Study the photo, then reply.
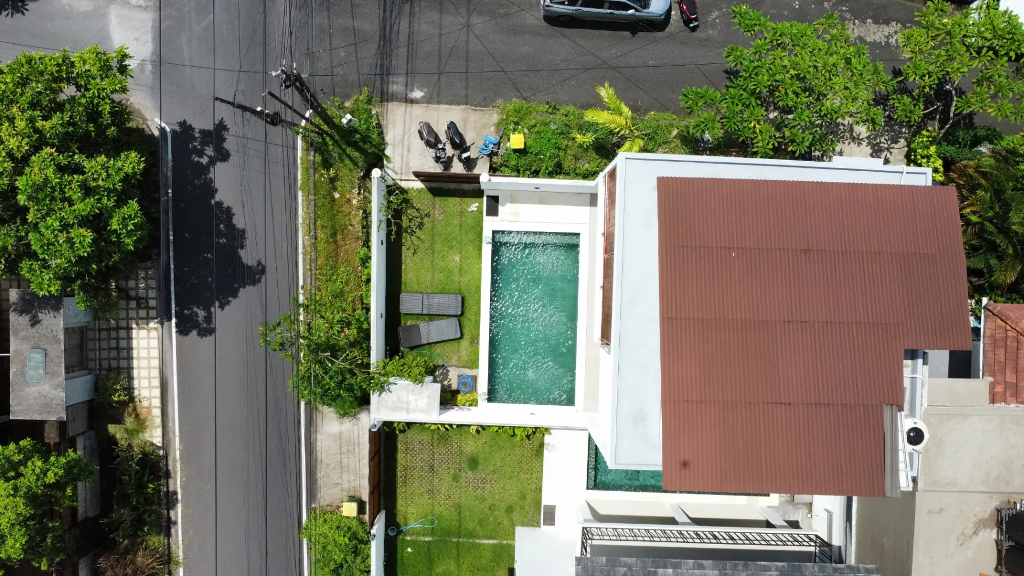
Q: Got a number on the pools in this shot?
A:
2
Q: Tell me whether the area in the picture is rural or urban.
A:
urban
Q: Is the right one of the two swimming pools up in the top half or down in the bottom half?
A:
bottom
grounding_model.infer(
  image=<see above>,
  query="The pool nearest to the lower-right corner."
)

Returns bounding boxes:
[587,437,662,491]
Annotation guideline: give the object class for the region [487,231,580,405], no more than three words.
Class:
swimming pool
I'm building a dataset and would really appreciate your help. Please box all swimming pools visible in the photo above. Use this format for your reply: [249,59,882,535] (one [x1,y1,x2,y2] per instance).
[487,231,580,405]
[587,437,662,491]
